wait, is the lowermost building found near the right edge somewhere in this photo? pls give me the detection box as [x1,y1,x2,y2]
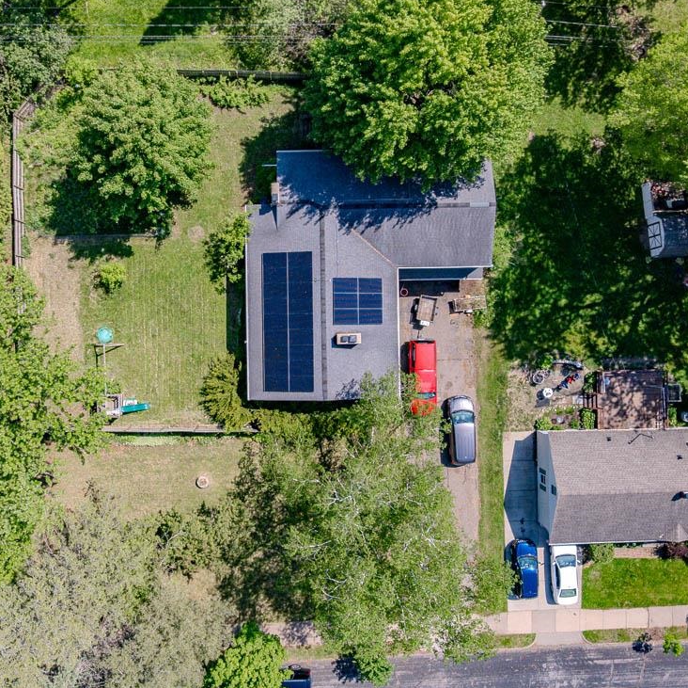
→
[537,425,688,546]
